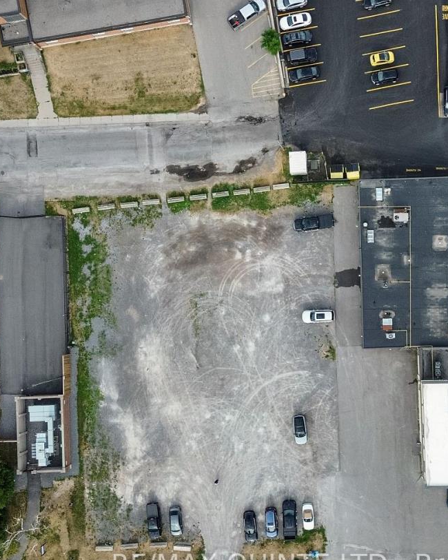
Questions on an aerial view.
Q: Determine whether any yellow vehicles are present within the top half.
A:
Yes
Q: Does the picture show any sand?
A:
No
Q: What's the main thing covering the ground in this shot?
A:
paved ground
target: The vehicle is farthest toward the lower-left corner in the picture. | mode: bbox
[145,501,163,541]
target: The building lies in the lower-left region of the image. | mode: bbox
[15,392,74,475]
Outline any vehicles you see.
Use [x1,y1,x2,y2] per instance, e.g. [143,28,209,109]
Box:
[145,501,163,541]
[288,65,321,84]
[293,213,335,232]
[293,414,309,445]
[369,50,395,67]
[282,29,313,48]
[302,502,316,530]
[276,0,308,12]
[281,499,298,540]
[284,46,318,66]
[279,12,312,31]
[302,309,334,324]
[242,508,258,542]
[264,505,279,537]
[168,504,184,536]
[362,0,393,11]
[225,0,268,31]
[370,69,400,86]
